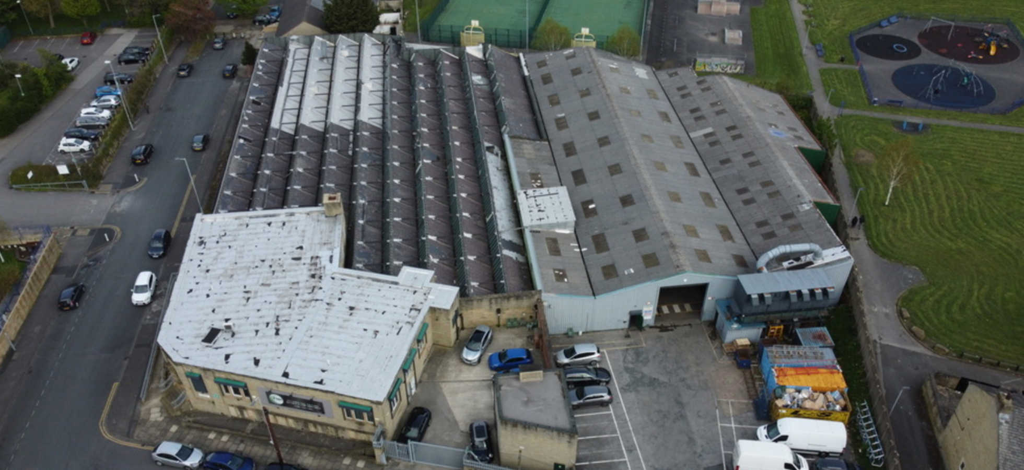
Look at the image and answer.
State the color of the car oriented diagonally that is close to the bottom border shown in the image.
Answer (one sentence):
The car oriented diagonally that is close to the bottom border is black.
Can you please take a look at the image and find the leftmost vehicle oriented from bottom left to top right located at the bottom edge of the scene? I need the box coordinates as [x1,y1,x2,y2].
[396,398,435,448]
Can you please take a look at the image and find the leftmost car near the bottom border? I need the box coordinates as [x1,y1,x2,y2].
[148,445,203,470]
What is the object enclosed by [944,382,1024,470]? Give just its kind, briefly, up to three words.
house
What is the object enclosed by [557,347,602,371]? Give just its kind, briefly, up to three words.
car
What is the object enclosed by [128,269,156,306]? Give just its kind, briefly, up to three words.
car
